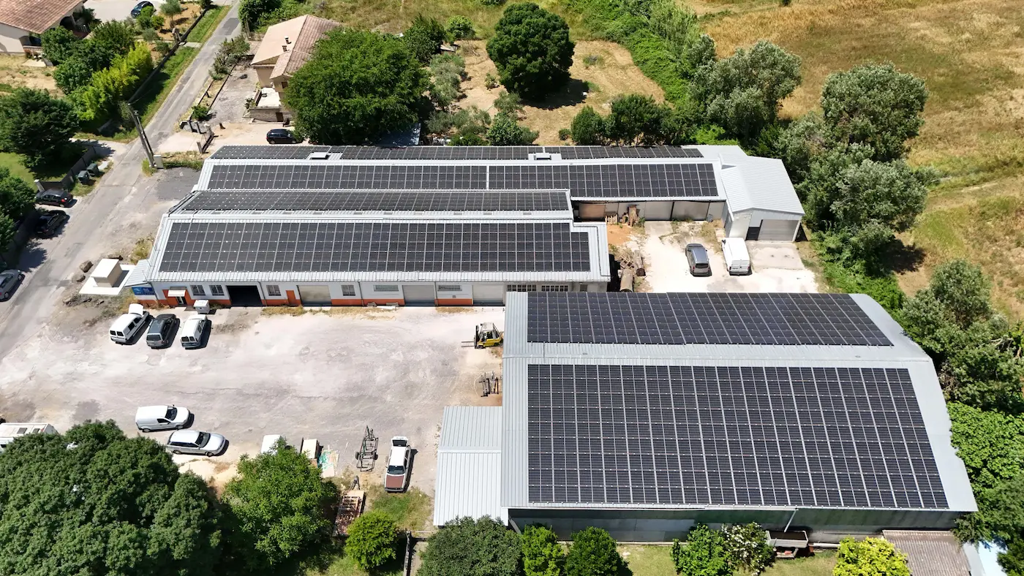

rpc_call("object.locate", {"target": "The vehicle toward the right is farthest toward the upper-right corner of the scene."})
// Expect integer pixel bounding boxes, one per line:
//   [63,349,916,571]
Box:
[723,237,750,272]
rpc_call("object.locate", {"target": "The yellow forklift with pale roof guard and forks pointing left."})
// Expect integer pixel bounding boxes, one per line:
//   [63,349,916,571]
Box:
[465,320,503,345]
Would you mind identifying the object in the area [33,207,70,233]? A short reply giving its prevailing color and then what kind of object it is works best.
black car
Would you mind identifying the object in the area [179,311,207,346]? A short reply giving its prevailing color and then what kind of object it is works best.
white van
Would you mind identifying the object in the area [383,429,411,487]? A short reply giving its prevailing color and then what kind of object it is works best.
white car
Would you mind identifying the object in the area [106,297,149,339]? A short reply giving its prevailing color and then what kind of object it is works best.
white van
